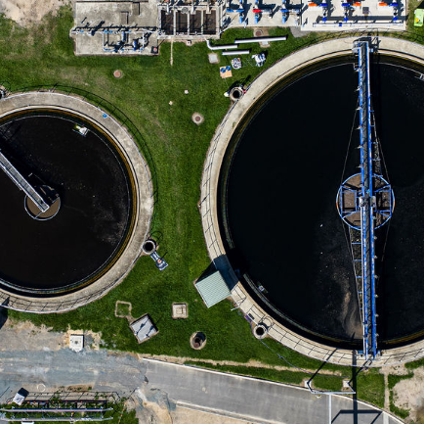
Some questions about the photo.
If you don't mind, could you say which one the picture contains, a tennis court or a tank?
tank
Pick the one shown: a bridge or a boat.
bridge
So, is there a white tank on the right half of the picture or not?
No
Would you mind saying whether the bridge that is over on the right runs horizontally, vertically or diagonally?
vertically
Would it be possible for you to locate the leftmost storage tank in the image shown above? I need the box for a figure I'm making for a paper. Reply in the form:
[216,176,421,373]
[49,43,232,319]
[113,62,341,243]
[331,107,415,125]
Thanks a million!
[0,91,153,313]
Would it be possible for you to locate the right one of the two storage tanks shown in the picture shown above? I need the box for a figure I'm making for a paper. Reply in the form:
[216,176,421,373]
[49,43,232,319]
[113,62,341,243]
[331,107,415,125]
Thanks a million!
[200,31,424,369]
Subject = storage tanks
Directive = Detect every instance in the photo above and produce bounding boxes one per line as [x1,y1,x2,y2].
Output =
[200,31,424,369]
[0,91,153,313]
